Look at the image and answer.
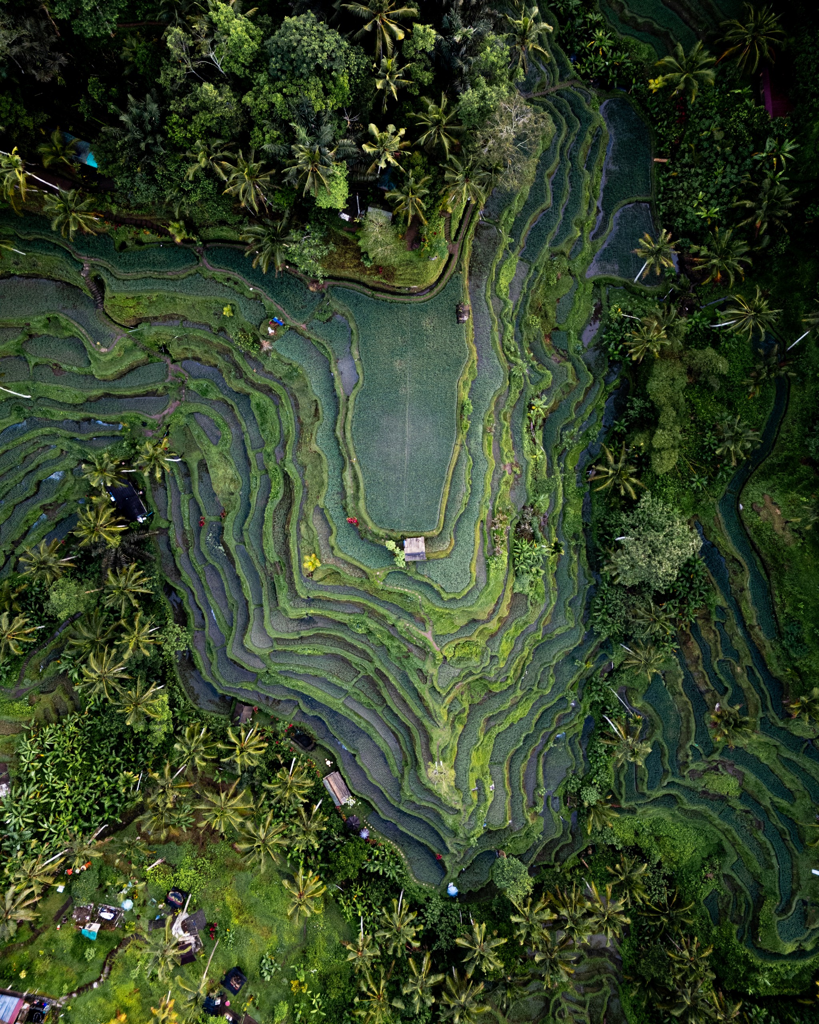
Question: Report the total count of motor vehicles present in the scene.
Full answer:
There are no motor vehicles in this view.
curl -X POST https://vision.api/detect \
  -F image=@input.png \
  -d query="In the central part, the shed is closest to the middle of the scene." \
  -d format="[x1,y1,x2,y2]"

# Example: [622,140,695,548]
[405,537,426,561]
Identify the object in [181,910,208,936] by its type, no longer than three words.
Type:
shed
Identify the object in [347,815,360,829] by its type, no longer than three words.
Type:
umbrella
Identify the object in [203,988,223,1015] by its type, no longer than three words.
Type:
shed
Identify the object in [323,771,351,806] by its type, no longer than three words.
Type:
building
